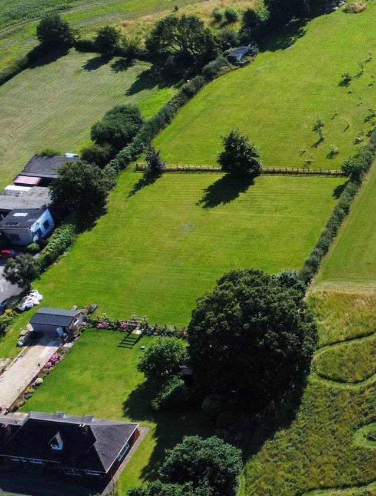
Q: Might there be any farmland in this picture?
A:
Yes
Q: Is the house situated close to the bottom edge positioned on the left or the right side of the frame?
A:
left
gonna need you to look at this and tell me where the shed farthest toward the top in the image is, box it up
[218,44,255,66]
